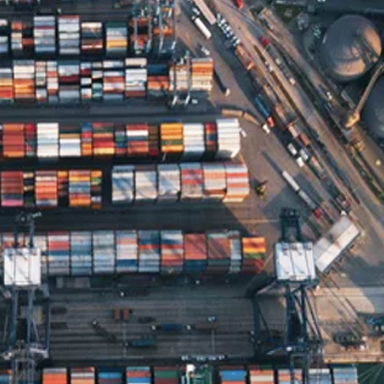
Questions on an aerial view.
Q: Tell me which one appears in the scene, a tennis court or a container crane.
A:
container crane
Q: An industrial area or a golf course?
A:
industrial area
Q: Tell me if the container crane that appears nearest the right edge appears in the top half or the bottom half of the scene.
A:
bottom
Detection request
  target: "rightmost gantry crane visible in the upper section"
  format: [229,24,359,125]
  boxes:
[168,51,191,108]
